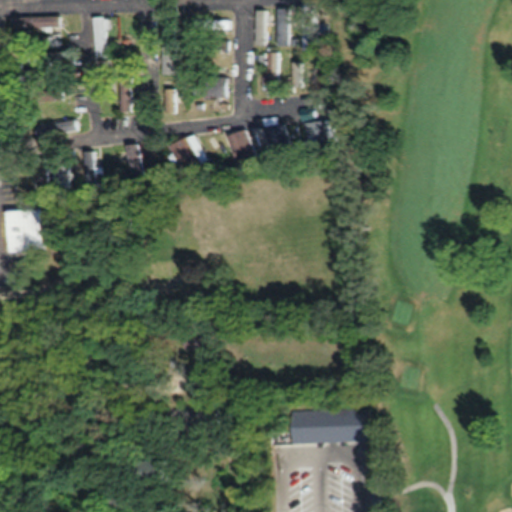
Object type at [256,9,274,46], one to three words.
house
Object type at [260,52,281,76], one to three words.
house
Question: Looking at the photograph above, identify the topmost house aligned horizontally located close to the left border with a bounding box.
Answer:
[18,14,62,34]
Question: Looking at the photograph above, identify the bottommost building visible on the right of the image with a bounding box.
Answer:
[291,410,360,444]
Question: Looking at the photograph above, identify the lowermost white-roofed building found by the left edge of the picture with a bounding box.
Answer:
[3,210,44,253]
